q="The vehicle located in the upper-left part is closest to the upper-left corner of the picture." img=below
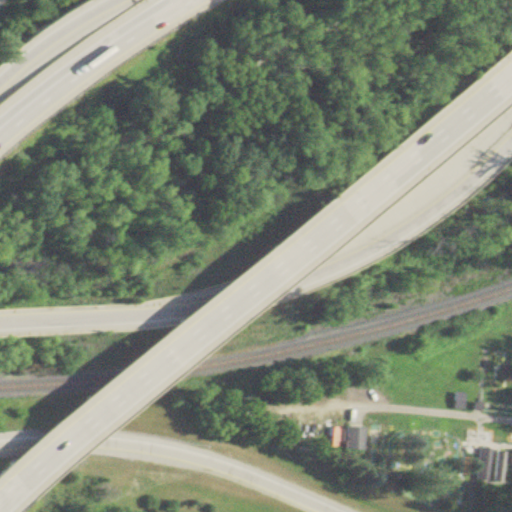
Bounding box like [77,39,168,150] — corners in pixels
[78,44,120,74]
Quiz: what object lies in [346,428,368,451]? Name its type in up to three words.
house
